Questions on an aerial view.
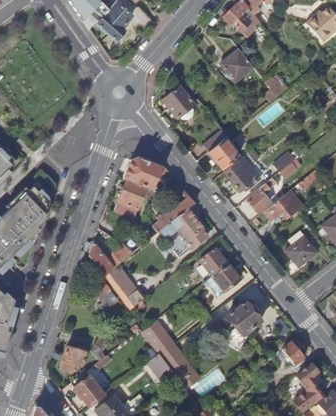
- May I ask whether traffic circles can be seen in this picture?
Yes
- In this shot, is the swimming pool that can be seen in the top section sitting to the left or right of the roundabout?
on its right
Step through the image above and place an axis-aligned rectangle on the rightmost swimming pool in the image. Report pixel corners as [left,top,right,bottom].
[257,103,285,126]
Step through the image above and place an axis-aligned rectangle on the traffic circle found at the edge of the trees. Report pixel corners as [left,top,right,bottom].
[89,53,168,157]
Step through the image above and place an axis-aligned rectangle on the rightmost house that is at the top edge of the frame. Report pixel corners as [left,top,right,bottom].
[306,4,336,41]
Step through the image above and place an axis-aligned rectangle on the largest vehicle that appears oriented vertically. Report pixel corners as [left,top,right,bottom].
[52,280,66,310]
